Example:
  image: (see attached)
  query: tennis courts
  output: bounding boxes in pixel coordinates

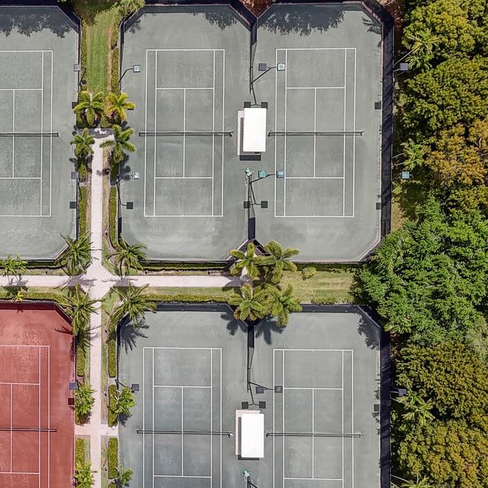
[0,301,76,488]
[254,2,382,262]
[118,306,248,488]
[118,4,251,260]
[0,5,79,260]
[253,305,381,488]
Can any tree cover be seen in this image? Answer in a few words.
Yes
